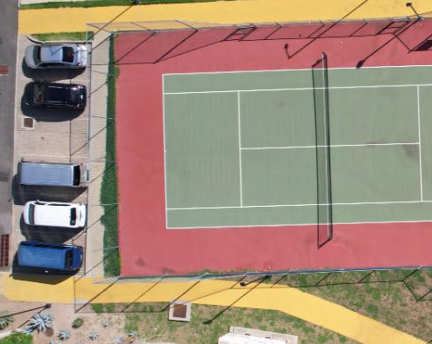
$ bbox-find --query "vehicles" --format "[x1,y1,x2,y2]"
[24,199,88,230]
[17,242,88,273]
[23,40,88,71]
[21,78,87,111]
[17,160,91,190]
